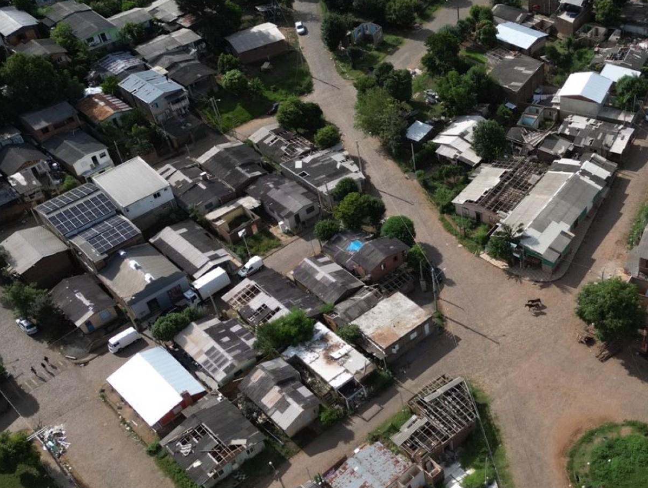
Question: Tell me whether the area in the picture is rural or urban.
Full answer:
It looks urban.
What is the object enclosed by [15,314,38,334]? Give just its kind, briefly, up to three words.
car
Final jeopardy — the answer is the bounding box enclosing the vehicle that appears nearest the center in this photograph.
[237,252,264,276]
